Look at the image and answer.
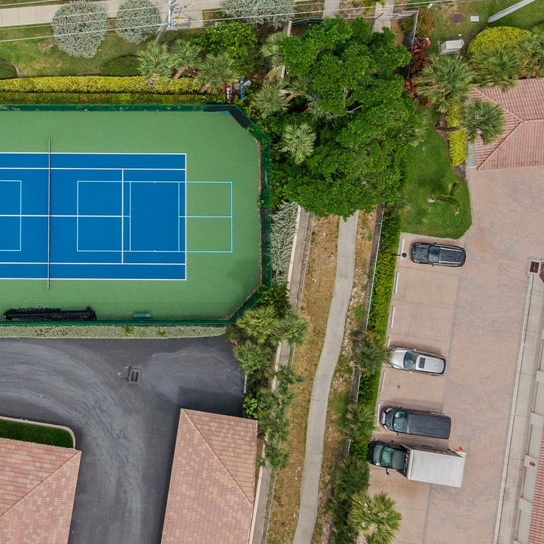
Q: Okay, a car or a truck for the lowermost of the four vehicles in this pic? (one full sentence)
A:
It looks like the lowermost of the four vehicles is a truck.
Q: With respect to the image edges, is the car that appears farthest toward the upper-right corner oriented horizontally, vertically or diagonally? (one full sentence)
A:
In this picture, the car that appears farthest toward the upper-right corner lies horizontally.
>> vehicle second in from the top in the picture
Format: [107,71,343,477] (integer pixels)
[388,348,446,375]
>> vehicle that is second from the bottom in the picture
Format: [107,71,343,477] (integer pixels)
[378,405,452,440]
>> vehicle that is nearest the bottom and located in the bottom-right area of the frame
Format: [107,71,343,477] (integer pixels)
[367,438,465,486]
